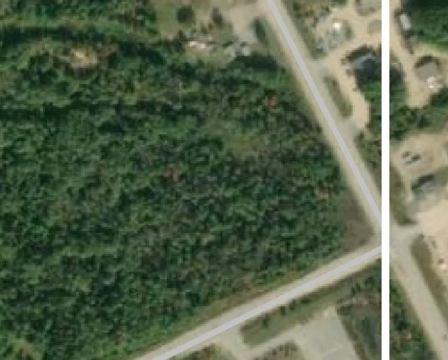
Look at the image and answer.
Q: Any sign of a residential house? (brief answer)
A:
Yes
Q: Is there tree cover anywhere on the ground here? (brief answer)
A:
Yes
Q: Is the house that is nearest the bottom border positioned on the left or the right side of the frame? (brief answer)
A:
right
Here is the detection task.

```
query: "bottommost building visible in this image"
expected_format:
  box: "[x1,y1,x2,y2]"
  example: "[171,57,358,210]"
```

[407,175,444,202]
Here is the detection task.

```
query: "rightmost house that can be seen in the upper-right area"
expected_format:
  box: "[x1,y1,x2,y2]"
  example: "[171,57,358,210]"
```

[413,57,442,81]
